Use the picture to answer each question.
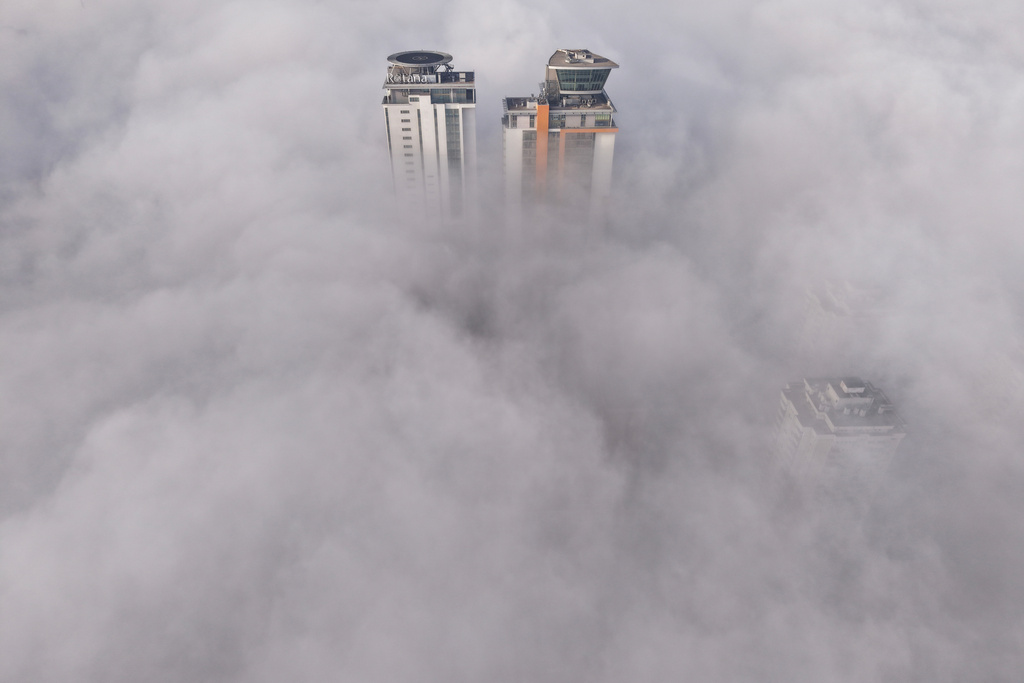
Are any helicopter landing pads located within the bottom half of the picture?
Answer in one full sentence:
No, there's no helicopter landing pad to be seen within the bottom half of the picture.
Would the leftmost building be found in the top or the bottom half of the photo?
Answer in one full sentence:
Seen from above, the leftmost building lies in the top half of the view.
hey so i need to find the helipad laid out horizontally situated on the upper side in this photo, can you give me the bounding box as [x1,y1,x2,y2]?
[387,49,453,82]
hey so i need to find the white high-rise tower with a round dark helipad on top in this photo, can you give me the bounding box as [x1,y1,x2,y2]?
[382,49,481,321]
